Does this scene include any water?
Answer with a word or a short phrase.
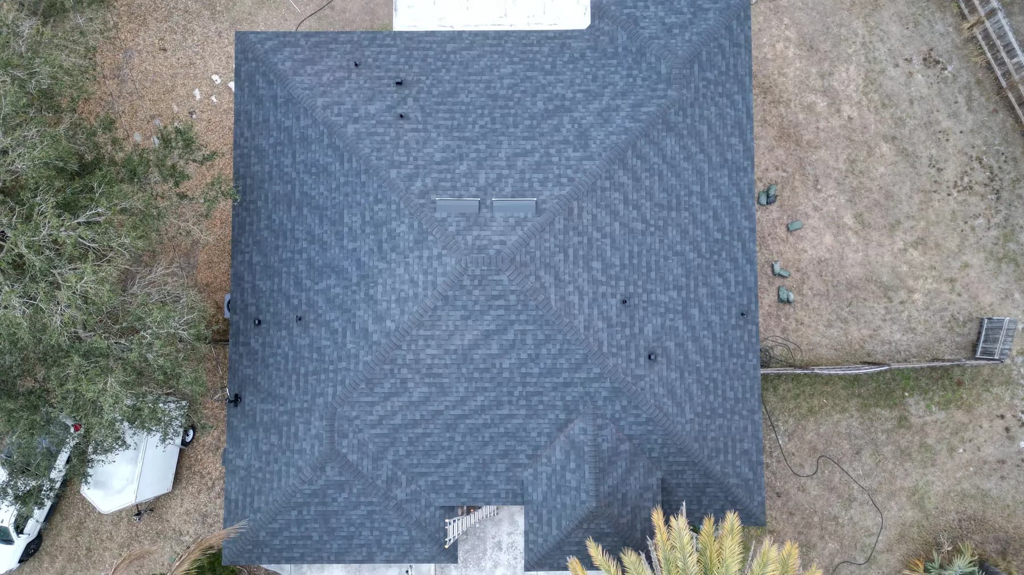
No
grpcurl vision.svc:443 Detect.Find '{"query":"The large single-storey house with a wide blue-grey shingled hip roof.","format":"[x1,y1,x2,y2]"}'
[221,0,765,573]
